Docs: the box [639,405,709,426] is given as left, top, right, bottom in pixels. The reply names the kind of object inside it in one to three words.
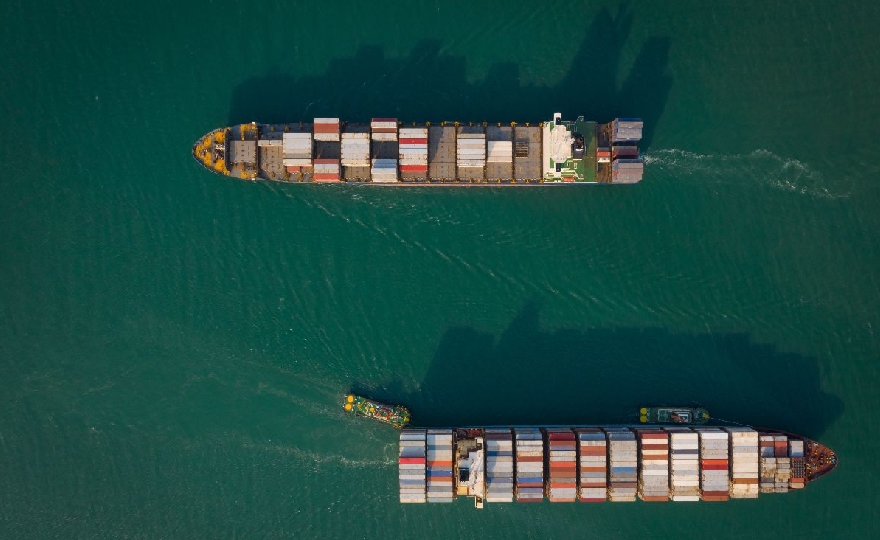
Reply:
boat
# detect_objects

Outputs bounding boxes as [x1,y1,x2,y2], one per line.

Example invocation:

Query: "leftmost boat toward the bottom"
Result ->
[341,392,412,431]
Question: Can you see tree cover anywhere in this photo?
No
